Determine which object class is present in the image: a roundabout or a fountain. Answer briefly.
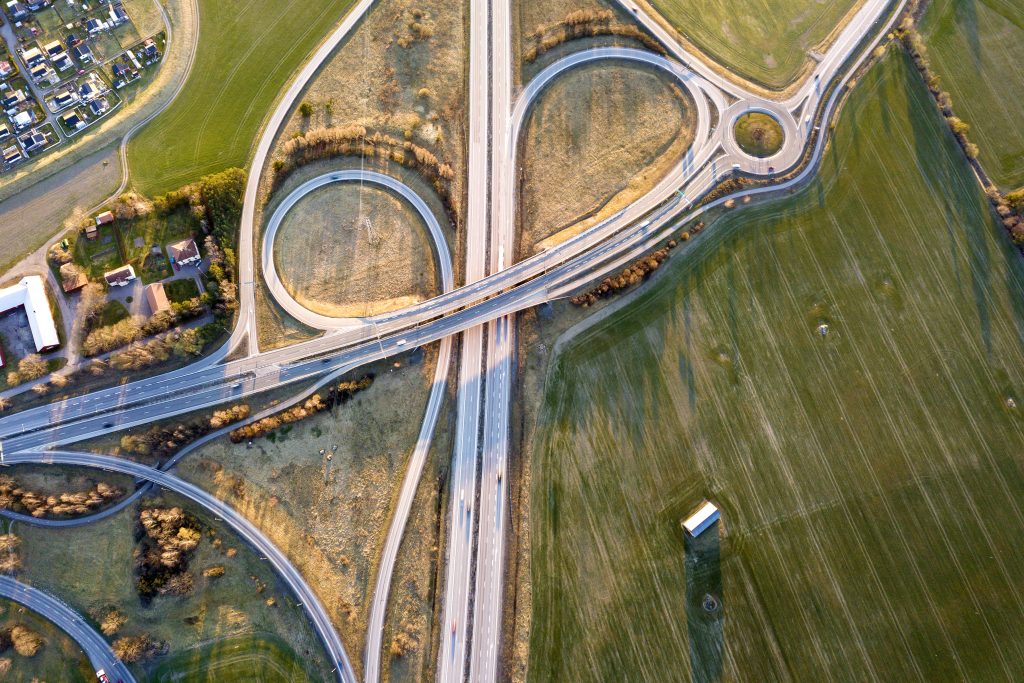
roundabout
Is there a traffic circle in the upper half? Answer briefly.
Yes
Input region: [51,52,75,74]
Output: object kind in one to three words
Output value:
house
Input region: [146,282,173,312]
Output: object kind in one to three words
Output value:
barn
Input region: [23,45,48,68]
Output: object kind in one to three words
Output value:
house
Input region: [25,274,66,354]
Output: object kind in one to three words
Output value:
barn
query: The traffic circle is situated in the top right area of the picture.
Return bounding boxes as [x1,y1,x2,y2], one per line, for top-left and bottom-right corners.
[717,100,801,171]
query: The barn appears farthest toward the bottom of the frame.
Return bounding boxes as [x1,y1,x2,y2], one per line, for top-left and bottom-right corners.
[680,502,718,536]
